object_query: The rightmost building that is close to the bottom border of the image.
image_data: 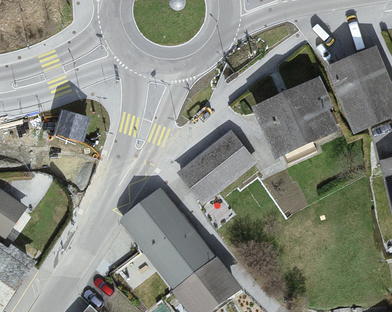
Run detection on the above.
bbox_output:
[172,256,242,312]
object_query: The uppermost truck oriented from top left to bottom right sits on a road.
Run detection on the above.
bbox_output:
[310,22,333,46]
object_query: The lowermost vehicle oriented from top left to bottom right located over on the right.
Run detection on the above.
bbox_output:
[314,41,332,63]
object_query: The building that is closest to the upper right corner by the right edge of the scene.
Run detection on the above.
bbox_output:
[328,45,392,133]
